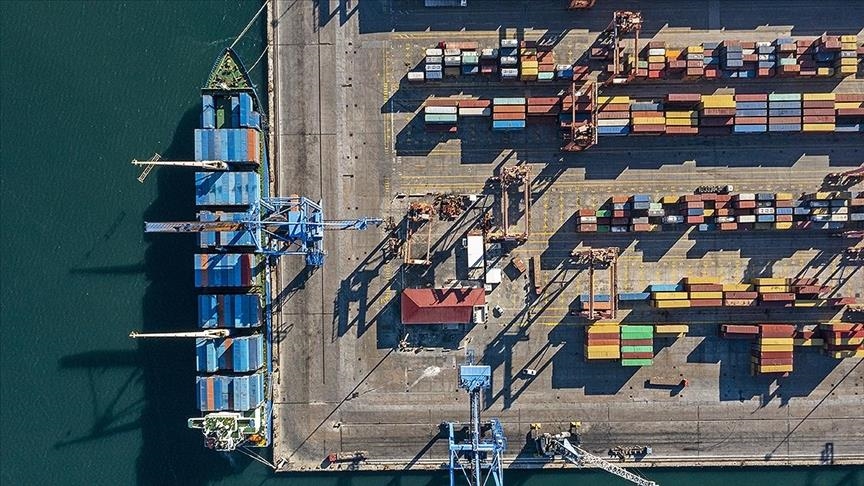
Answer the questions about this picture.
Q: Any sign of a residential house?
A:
Yes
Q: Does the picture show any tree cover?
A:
No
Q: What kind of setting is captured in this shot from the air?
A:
port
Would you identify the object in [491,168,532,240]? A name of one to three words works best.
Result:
container crane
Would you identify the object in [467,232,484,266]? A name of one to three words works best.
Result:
shed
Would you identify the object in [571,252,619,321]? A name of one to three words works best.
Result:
container crane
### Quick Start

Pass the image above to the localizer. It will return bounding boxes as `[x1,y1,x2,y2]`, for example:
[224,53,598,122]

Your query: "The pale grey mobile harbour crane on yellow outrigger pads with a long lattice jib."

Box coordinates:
[532,422,660,486]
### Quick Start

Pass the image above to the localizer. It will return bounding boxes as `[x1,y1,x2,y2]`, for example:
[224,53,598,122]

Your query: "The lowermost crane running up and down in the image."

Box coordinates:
[439,346,506,486]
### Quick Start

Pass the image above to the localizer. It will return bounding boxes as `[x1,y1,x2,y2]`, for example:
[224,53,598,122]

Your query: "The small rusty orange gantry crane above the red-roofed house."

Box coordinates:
[402,211,438,265]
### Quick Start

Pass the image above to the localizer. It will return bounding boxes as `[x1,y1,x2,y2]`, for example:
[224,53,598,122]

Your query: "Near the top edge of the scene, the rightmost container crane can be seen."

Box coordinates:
[597,8,643,81]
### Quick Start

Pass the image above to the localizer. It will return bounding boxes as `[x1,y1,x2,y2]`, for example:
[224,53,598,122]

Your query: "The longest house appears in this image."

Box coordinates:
[402,287,485,326]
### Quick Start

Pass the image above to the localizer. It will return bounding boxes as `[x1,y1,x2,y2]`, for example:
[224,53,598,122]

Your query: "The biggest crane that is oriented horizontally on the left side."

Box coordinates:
[143,194,380,261]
